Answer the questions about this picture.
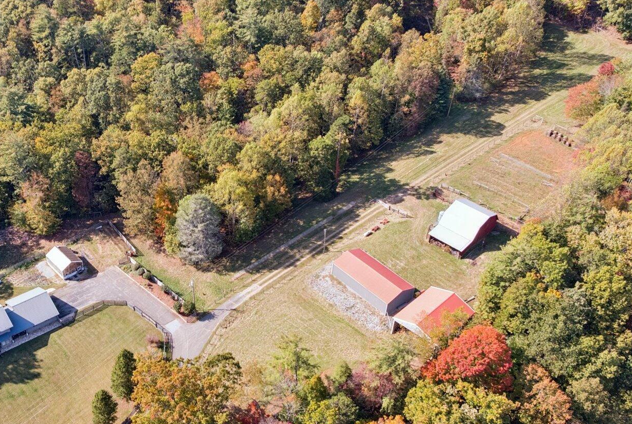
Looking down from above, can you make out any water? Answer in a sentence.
No, there is no water in the image.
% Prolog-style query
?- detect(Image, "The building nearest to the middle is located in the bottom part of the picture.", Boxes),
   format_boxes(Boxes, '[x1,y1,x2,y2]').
[332,248,416,314]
